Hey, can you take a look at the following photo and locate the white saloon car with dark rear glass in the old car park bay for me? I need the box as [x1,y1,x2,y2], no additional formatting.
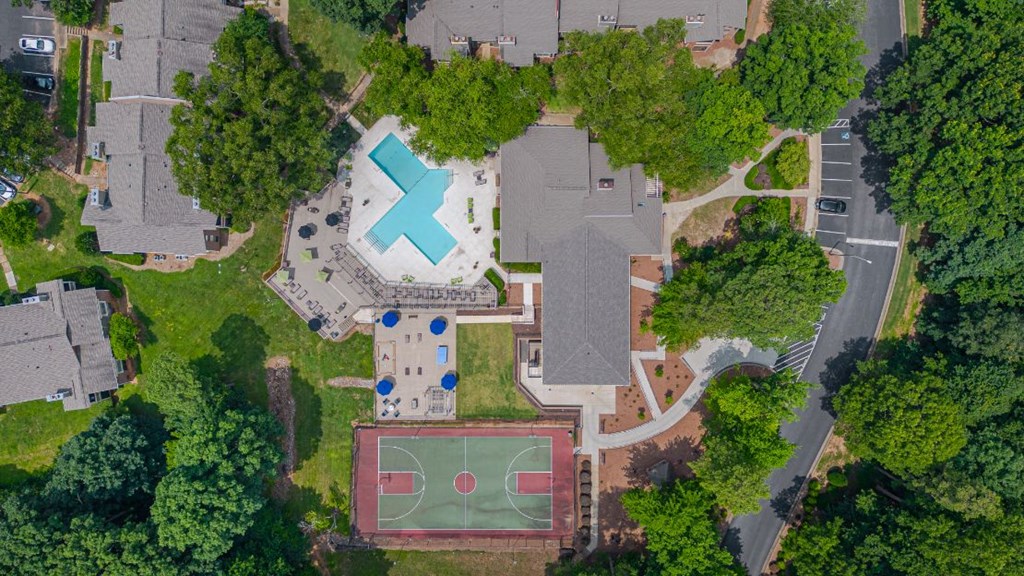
[20,37,57,54]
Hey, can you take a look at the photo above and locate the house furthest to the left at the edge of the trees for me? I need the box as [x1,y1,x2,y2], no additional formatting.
[0,279,132,411]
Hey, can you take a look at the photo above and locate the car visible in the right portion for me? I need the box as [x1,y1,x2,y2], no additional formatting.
[814,197,846,212]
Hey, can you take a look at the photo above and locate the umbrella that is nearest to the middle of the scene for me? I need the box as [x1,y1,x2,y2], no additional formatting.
[430,318,446,334]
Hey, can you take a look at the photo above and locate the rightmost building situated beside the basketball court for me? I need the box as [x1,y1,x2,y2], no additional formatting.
[501,126,663,386]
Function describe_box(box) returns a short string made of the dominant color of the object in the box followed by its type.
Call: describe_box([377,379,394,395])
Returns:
blue umbrella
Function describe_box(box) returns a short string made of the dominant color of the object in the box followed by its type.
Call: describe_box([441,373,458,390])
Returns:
blue umbrella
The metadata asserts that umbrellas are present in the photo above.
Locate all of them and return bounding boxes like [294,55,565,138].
[441,373,458,390]
[430,318,446,334]
[278,270,290,281]
[315,269,328,282]
[377,379,394,395]
[381,310,399,327]
[326,212,340,226]
[299,225,312,239]
[300,250,312,262]
[308,318,322,331]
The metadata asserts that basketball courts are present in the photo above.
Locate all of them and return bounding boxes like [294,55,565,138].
[357,426,575,538]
